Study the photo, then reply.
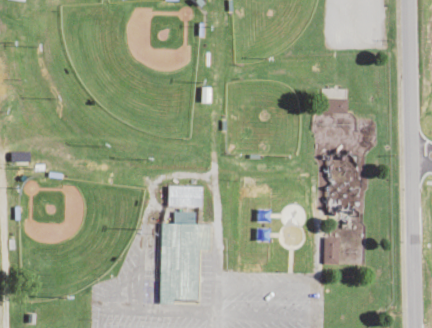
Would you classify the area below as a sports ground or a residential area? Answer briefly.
sports ground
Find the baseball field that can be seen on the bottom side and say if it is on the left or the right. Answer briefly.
left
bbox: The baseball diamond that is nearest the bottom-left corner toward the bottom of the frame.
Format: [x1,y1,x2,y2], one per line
[20,177,144,299]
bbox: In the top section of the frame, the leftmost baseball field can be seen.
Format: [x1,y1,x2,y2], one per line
[62,0,199,138]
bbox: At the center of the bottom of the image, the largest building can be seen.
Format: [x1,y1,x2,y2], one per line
[161,222,212,303]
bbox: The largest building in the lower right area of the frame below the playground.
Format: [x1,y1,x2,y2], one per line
[324,238,340,264]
